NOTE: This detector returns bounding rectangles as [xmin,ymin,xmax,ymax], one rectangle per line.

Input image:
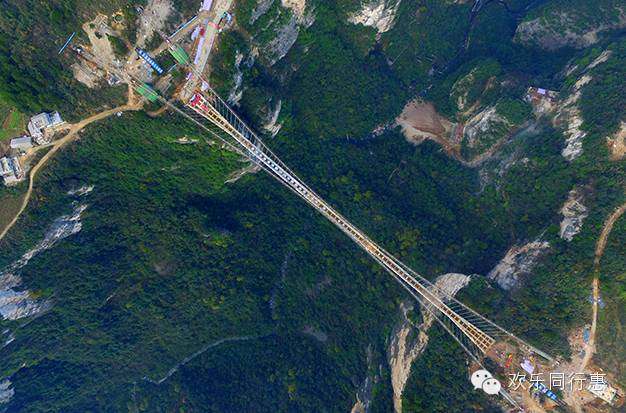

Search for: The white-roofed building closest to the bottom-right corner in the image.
[581,368,616,400]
